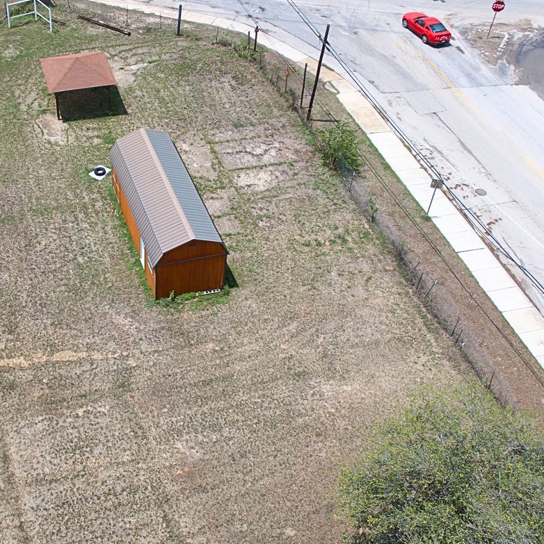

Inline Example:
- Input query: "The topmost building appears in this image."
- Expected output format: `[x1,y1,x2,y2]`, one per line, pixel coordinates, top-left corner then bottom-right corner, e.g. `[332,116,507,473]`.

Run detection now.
[40,50,118,120]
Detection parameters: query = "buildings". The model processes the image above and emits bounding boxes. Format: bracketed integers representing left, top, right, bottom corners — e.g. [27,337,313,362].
[40,50,118,120]
[111,125,232,298]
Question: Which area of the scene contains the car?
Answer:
top right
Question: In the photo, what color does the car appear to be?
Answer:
red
